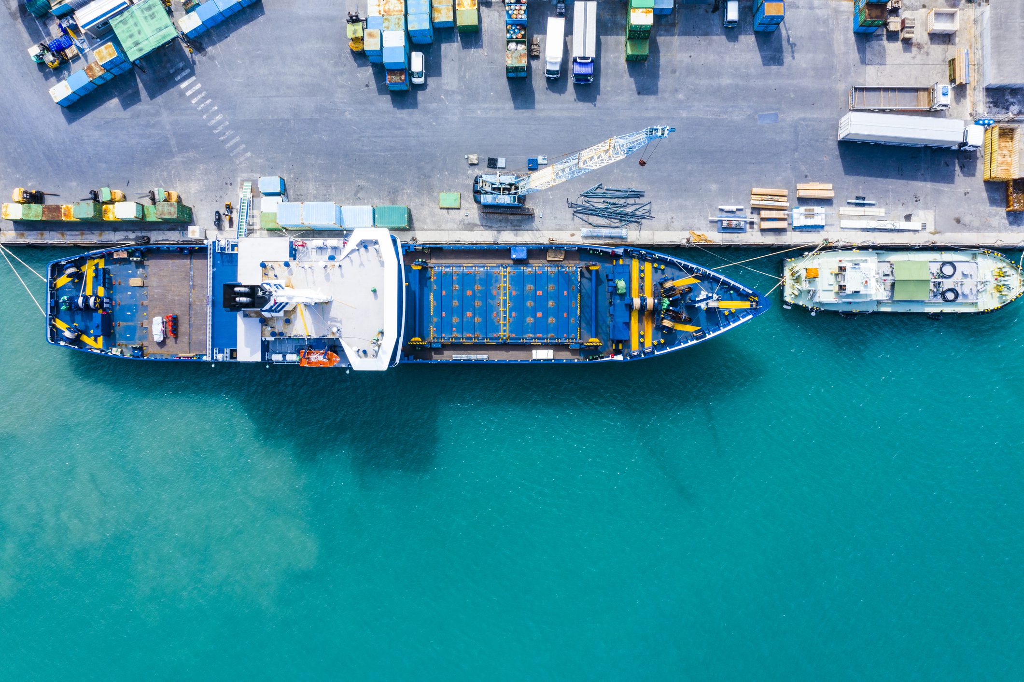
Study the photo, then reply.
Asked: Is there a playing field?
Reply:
No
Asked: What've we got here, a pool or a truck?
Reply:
truck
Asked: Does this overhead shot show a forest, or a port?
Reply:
port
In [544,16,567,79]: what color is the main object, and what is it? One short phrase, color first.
white truck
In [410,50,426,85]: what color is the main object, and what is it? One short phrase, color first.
white vehicle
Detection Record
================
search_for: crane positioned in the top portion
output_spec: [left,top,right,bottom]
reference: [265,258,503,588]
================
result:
[473,123,674,217]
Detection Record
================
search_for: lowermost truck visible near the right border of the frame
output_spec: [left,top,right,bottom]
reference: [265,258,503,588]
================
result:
[840,110,989,149]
